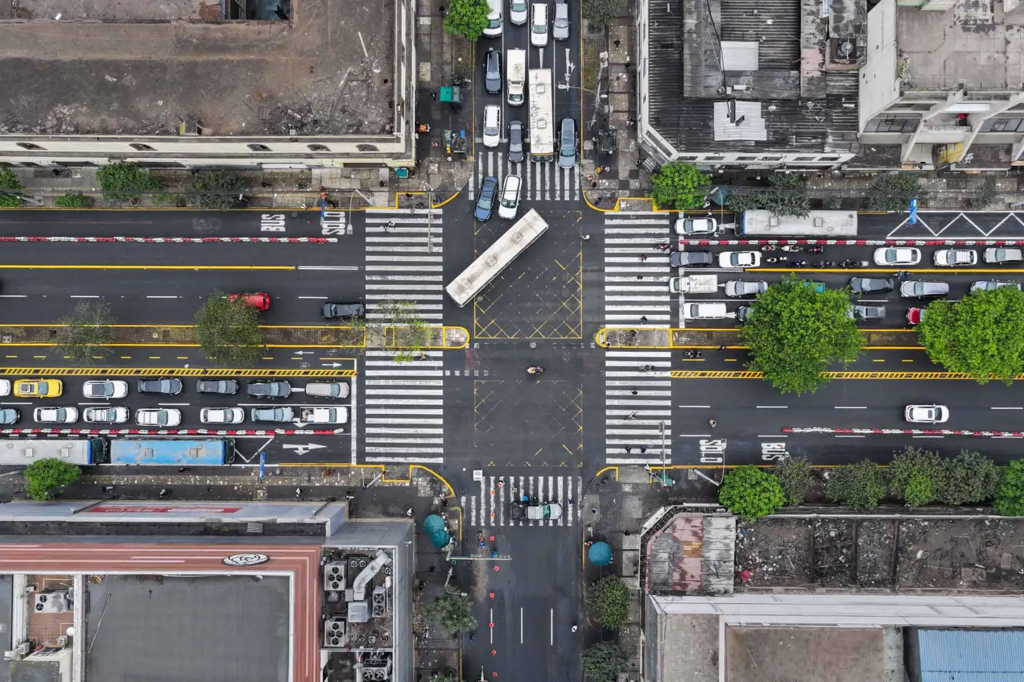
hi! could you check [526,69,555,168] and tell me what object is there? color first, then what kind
white bus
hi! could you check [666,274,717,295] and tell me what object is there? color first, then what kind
white truck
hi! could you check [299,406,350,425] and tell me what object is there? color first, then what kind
white vehicle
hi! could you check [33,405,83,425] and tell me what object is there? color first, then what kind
white car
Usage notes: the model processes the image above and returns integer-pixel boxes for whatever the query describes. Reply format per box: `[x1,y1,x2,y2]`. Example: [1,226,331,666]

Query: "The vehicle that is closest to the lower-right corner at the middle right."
[902,403,947,424]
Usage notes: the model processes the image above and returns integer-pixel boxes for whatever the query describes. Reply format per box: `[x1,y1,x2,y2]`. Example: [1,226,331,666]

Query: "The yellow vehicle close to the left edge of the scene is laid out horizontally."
[12,377,67,400]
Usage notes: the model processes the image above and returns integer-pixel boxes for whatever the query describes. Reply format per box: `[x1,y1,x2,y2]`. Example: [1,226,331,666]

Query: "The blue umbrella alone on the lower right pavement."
[588,541,612,565]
